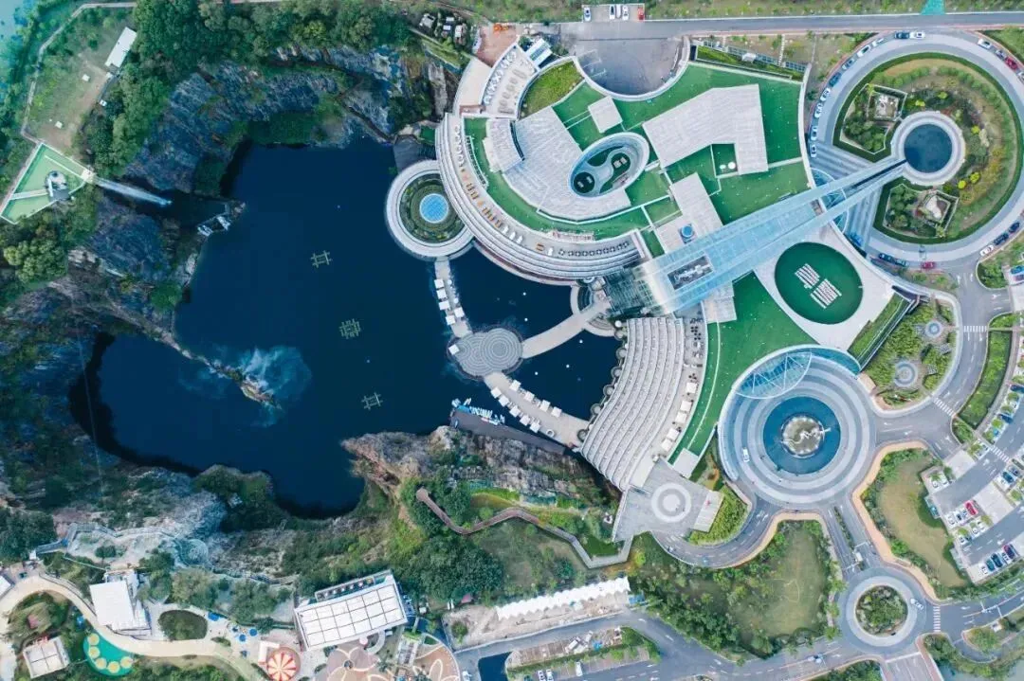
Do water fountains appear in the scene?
Yes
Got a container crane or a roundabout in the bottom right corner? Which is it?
roundabout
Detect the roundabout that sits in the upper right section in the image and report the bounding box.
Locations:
[807,30,1024,267]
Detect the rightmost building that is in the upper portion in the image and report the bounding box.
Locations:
[920,192,955,221]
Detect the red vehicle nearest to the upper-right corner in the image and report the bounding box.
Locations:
[1006,56,1021,69]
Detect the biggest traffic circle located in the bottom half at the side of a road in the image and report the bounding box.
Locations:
[722,361,877,508]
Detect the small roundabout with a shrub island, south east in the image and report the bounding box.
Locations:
[836,564,928,656]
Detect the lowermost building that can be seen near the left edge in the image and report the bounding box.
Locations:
[24,635,75,679]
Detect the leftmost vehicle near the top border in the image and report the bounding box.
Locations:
[493,20,515,32]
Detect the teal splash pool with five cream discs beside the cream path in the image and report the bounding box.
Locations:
[83,629,135,678]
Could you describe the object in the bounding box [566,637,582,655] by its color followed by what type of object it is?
white vehicle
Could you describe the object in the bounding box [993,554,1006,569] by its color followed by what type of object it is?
blue vehicle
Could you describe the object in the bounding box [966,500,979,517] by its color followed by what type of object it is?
red vehicle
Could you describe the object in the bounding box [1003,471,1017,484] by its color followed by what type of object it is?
blue vehicle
